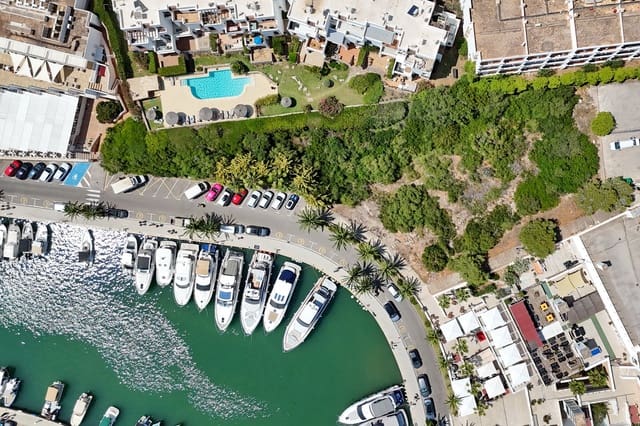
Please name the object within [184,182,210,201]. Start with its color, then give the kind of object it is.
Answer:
white vehicle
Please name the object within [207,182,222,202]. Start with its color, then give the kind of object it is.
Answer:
pink car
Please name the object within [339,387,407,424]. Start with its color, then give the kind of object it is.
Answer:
white boat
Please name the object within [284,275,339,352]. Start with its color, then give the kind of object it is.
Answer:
white boat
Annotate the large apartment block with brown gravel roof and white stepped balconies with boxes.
[458,0,640,76]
